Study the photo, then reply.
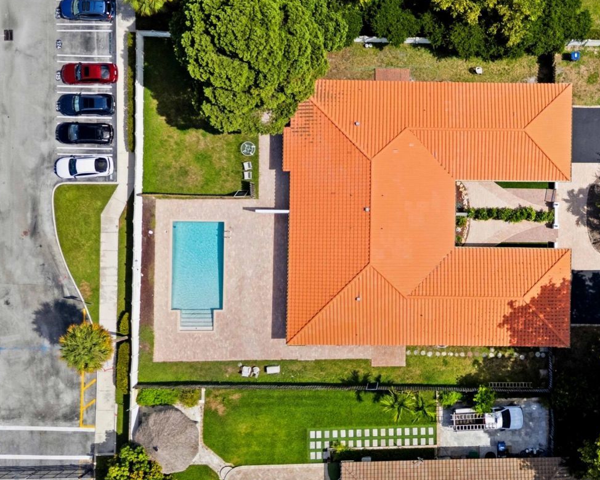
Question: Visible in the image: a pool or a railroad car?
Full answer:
Of the two, only a pool appears.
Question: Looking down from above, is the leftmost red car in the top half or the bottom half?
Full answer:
It is in the top half that the leftmost red car appears.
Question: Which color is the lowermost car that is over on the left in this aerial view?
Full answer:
The lowermost car that is over on the left looks white in the image.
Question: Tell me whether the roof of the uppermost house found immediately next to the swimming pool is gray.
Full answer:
No, the color of the roof of the uppermost house found immediately next to the swimming pool is orange.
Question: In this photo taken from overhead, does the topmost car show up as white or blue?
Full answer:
From above, the topmost car appears blue.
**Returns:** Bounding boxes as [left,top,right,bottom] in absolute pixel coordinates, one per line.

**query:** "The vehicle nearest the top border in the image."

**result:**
[59,0,118,24]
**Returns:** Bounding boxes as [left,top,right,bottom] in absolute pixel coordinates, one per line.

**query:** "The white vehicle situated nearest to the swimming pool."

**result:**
[57,155,118,182]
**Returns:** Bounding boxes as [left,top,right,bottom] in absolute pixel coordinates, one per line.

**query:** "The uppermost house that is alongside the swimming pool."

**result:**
[254,79,572,347]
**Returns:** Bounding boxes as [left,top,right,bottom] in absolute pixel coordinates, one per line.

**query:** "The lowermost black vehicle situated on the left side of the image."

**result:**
[58,120,117,147]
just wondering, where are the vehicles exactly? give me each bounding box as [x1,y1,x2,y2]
[451,405,523,436]
[59,0,118,24]
[58,91,118,118]
[57,155,118,182]
[62,60,121,87]
[58,120,117,147]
